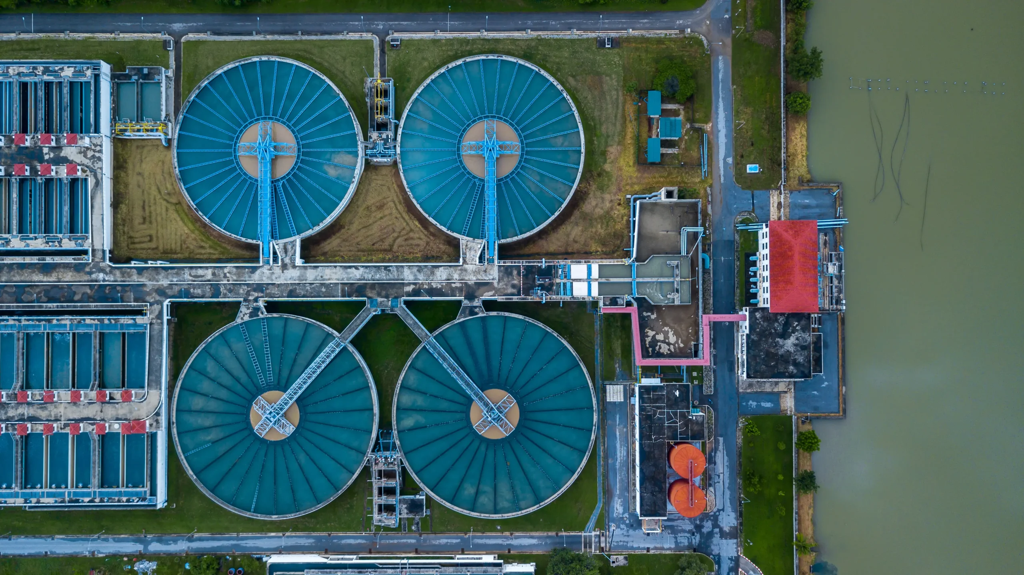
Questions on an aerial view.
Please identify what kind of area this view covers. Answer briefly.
industrial area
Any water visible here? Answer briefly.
Yes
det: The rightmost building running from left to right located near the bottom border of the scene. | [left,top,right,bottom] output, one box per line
[503,559,535,571]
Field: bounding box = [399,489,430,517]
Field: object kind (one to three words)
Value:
building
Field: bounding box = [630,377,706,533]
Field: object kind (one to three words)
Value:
building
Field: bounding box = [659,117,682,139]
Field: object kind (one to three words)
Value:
shed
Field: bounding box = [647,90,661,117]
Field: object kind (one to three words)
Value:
shed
